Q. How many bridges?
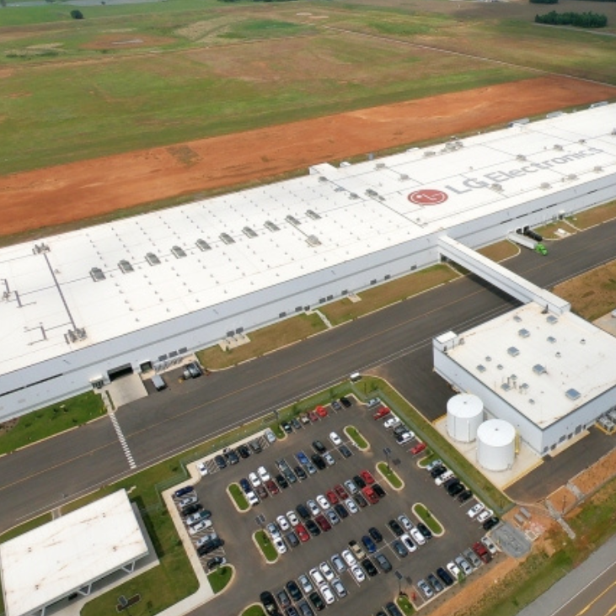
1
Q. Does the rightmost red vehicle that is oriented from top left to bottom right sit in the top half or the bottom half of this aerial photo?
bottom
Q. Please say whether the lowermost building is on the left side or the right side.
left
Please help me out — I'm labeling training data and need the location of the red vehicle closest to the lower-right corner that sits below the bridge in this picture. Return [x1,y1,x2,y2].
[471,541,492,563]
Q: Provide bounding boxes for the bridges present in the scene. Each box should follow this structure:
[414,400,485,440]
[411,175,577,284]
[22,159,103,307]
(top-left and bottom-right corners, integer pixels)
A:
[435,235,572,317]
